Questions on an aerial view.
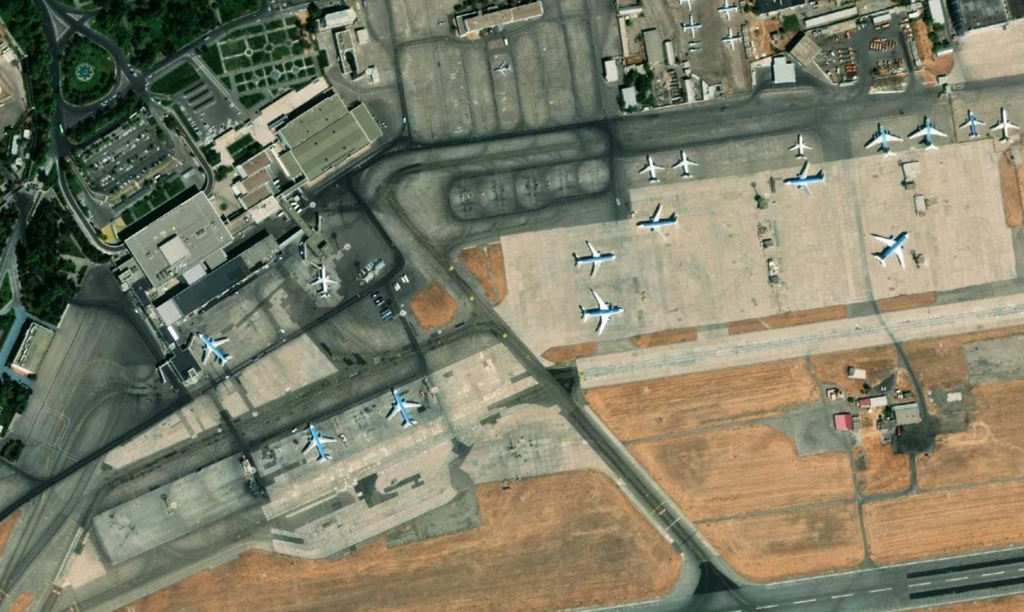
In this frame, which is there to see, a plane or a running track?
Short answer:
plane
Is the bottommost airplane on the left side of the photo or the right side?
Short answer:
left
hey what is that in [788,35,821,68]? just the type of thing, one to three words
hangar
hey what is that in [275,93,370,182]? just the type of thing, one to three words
building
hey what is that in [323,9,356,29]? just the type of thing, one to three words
hangar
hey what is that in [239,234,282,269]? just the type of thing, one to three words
building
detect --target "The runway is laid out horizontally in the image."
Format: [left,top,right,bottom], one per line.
[580,547,1024,612]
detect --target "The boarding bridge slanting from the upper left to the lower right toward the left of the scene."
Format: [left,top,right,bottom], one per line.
[304,243,321,269]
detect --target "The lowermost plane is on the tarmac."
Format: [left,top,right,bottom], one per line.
[303,425,336,463]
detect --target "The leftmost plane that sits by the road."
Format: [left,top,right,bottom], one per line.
[199,334,231,366]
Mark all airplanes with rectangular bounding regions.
[637,204,680,239]
[993,108,1019,143]
[913,119,948,149]
[962,111,986,138]
[303,425,336,463]
[581,291,624,334]
[388,390,420,428]
[718,0,737,20]
[721,28,742,50]
[869,126,904,155]
[495,63,512,74]
[641,156,664,183]
[784,162,827,196]
[870,231,908,269]
[199,334,231,366]
[790,134,812,159]
[311,265,337,297]
[674,151,698,177]
[684,15,701,37]
[574,241,615,277]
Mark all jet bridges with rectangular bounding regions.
[317,216,325,231]
[157,359,172,384]
[304,243,321,269]
[185,334,195,348]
